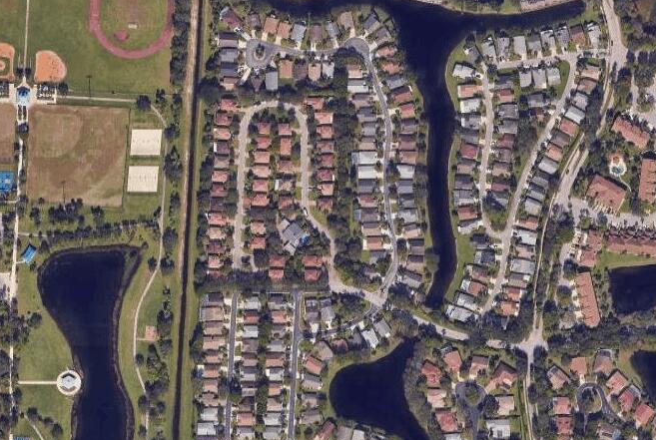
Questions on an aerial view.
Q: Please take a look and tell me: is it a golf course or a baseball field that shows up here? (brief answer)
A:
baseball field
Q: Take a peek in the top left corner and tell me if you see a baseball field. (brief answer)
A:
Yes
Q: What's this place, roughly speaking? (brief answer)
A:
residential area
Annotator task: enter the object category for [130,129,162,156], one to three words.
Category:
sports court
